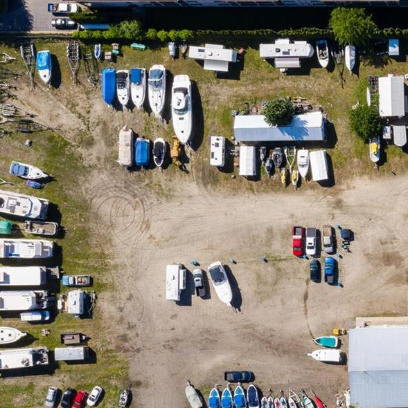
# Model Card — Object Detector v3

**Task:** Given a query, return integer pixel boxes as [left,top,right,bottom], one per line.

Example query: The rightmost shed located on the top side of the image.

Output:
[379,76,406,116]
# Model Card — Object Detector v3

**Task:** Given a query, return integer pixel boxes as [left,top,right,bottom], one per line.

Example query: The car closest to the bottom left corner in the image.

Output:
[45,385,60,408]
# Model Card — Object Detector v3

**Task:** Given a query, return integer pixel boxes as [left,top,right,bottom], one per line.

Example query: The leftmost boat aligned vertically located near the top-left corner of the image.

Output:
[37,50,53,84]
